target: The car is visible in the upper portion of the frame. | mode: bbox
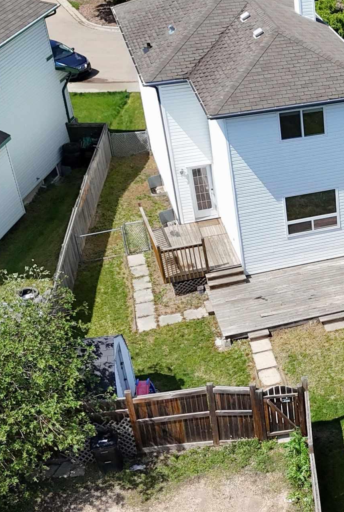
[49,30,89,70]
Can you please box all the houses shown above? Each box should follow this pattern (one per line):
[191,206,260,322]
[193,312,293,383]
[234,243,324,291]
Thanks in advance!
[0,0,83,235]
[103,0,344,276]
